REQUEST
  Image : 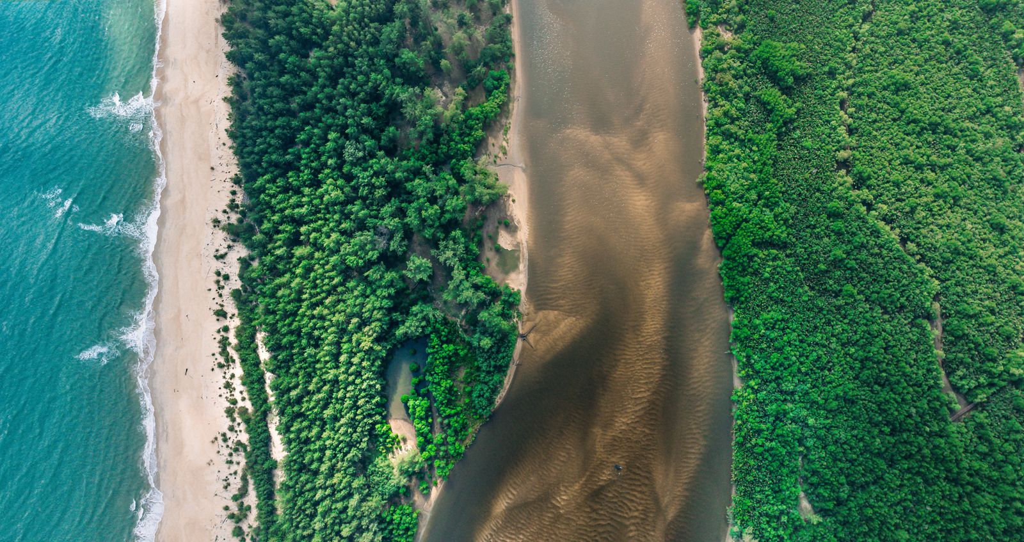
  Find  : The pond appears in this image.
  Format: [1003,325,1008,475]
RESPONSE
[387,339,434,419]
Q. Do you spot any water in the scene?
Yes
